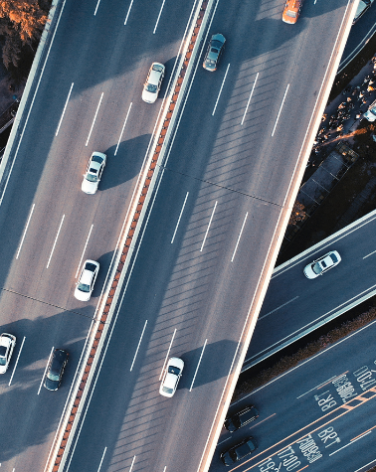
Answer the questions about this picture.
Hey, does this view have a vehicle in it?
Yes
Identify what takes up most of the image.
paved ground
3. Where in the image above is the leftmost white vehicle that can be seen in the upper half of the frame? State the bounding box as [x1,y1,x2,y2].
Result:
[80,149,107,195]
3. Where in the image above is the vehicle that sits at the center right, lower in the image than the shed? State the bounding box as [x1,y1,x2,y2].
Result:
[302,249,342,279]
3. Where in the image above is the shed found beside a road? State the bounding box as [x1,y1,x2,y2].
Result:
[295,148,356,218]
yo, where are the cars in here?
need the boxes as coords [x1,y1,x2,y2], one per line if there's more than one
[159,357,184,400]
[360,96,376,125]
[74,259,99,301]
[351,0,376,30]
[200,30,227,76]
[302,249,342,279]
[0,331,17,374]
[224,403,262,433]
[140,60,167,106]
[80,149,107,195]
[42,346,67,389]
[278,0,305,31]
